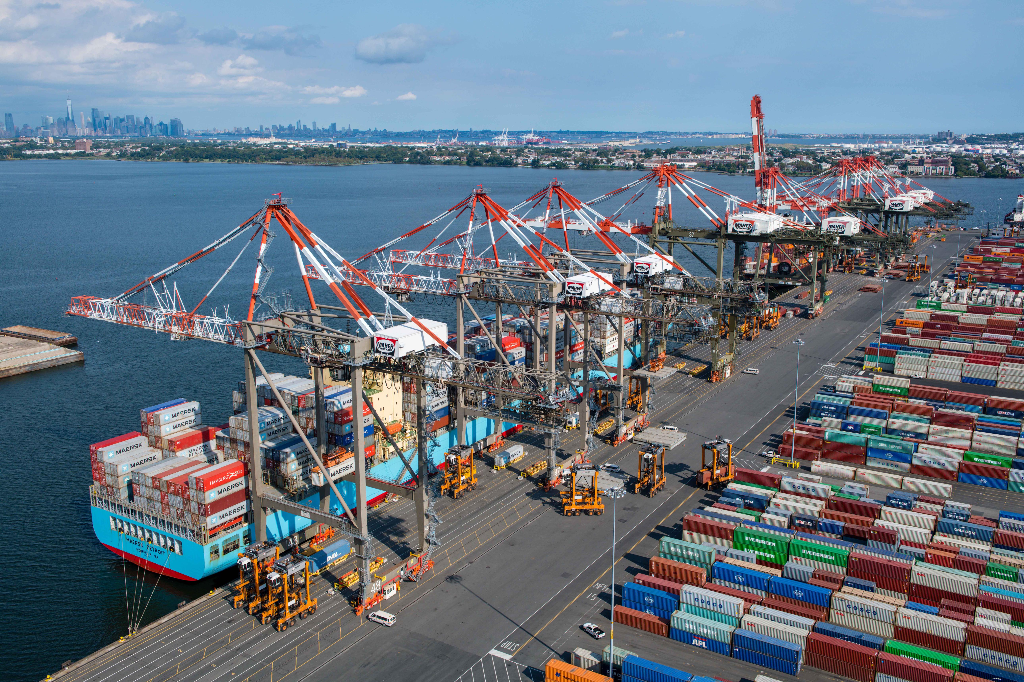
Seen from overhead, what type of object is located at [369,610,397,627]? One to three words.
vehicle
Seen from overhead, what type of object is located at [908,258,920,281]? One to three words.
vehicle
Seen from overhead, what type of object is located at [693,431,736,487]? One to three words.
work vehicle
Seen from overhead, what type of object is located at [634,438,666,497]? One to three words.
work vehicle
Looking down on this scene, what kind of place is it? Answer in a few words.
port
